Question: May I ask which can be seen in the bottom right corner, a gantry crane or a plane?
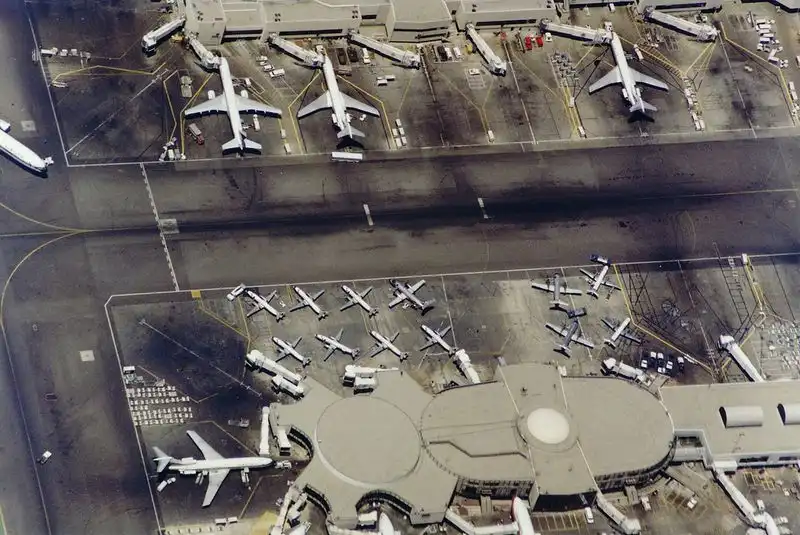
plane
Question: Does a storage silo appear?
No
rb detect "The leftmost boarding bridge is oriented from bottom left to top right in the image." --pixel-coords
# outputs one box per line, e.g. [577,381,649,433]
[142,14,186,48]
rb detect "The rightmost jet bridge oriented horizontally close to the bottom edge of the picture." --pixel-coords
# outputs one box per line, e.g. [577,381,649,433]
[440,508,520,535]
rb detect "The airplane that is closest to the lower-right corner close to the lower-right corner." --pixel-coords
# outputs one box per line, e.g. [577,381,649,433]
[763,512,785,535]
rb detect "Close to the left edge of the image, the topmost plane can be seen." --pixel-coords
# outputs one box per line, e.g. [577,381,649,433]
[0,115,47,168]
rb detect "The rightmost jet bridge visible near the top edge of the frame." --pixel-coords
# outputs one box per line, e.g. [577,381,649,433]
[644,7,720,41]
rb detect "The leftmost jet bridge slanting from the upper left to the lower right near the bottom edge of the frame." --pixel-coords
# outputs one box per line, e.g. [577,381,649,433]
[593,491,640,532]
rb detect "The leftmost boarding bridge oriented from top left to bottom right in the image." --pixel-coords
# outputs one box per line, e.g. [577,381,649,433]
[185,34,221,68]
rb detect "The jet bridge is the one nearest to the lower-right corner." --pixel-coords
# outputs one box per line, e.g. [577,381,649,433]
[709,463,766,523]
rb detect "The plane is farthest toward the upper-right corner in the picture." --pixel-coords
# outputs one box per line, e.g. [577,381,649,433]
[594,34,671,113]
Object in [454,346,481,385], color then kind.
white jet bridge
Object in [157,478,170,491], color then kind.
white vehicle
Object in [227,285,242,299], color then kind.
white vehicle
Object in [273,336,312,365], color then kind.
white airplane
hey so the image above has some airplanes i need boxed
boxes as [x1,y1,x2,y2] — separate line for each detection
[511,498,529,535]
[594,34,671,113]
[155,430,274,504]
[421,325,459,353]
[0,115,47,168]
[341,286,380,314]
[388,280,434,312]
[291,287,329,317]
[186,57,281,147]
[380,510,396,535]
[763,512,785,535]
[580,266,621,295]
[316,329,360,360]
[545,320,593,355]
[531,274,581,311]
[370,332,409,361]
[273,336,312,365]
[296,52,378,132]
[601,319,639,346]
[247,291,285,319]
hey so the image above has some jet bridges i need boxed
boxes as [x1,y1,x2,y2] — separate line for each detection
[286,486,309,520]
[540,17,614,45]
[602,358,654,390]
[255,403,271,457]
[346,29,423,70]
[267,31,327,69]
[325,523,383,535]
[464,21,509,76]
[270,479,295,535]
[244,350,311,390]
[709,463,766,523]
[185,34,221,68]
[644,7,720,41]
[142,14,186,48]
[342,363,384,378]
[454,346,481,385]
[349,375,380,395]
[718,336,768,383]
[270,373,312,401]
[593,491,640,532]
[440,508,520,535]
